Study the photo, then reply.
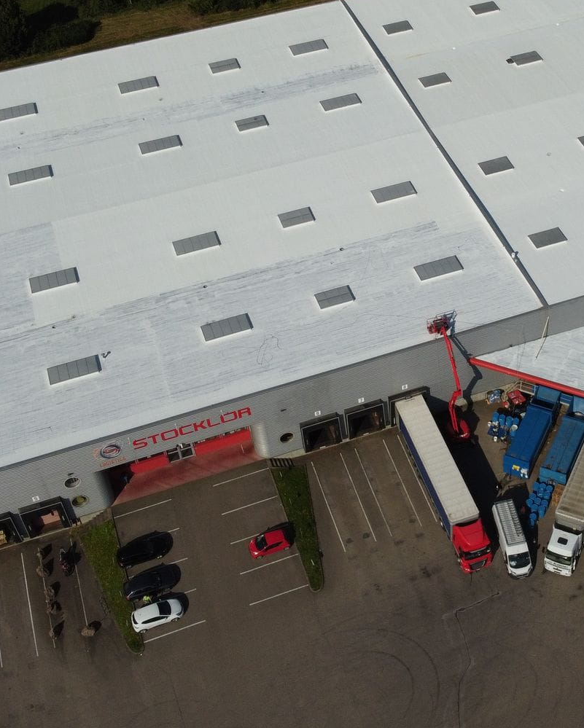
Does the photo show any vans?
Yes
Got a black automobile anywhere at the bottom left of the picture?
Yes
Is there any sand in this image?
No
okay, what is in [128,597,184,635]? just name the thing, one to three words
car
